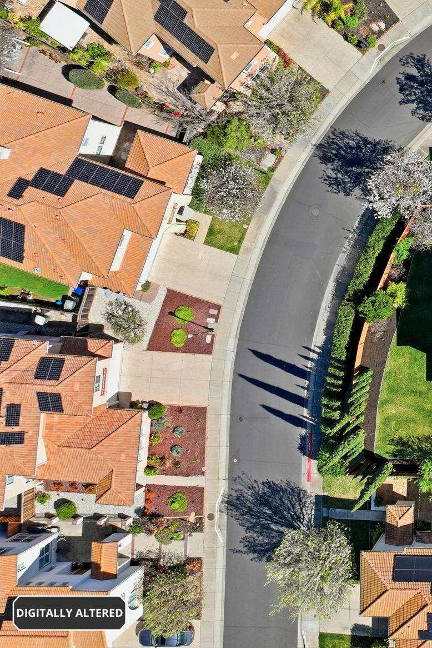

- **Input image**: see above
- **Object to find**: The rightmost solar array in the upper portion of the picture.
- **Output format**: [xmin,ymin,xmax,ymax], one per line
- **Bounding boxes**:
[152,0,213,63]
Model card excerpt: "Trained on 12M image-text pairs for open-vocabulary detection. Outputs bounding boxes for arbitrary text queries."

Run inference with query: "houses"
[0,528,145,648]
[68,0,302,110]
[0,83,204,299]
[0,332,154,512]
[359,495,432,648]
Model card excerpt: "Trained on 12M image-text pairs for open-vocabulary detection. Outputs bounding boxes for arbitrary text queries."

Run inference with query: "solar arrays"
[7,157,142,199]
[32,357,64,380]
[392,557,432,582]
[0,218,23,263]
[34,392,62,413]
[419,615,432,641]
[152,0,213,63]
[0,432,24,445]
[82,0,112,23]
[0,339,13,361]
